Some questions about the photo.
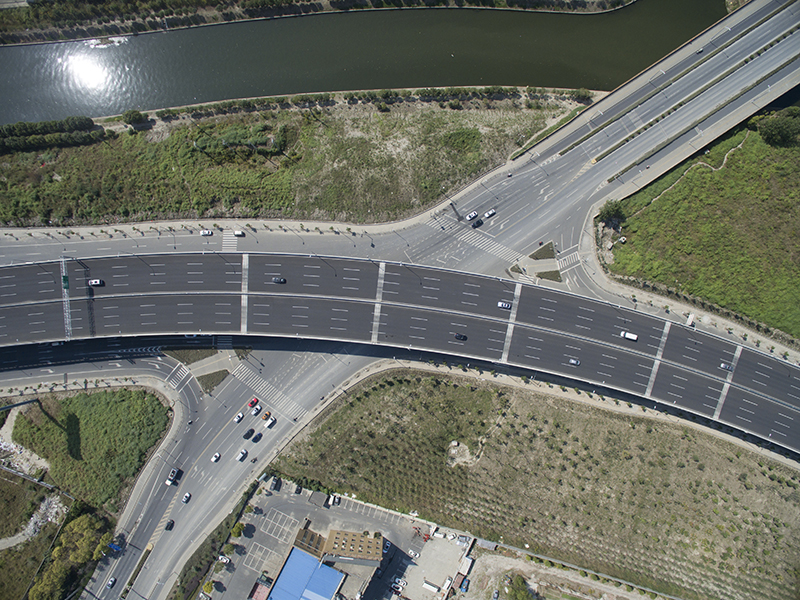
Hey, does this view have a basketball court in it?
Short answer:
No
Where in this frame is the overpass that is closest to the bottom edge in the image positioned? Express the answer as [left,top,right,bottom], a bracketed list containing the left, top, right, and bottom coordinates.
[0,252,800,452]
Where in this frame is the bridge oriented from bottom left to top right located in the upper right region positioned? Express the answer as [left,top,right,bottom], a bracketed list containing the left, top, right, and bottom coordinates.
[520,0,800,211]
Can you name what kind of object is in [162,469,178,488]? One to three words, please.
vehicle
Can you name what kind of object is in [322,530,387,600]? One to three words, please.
building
